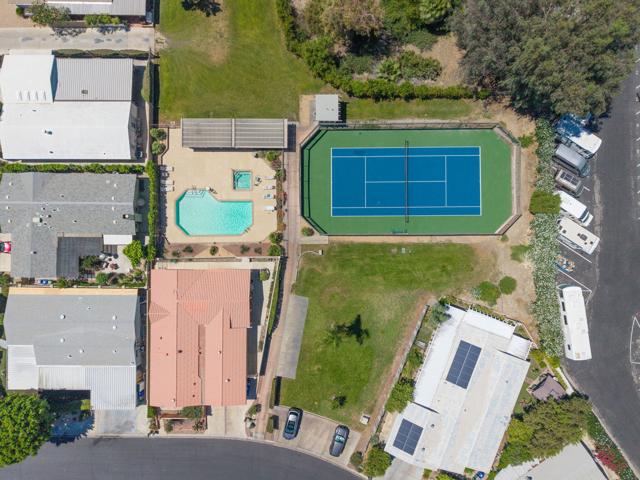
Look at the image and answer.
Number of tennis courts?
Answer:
1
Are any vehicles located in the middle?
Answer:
No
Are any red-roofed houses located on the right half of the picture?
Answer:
No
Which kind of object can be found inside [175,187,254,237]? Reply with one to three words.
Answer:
swimming pool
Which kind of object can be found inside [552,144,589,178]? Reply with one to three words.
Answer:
van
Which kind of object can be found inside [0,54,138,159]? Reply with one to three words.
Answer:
house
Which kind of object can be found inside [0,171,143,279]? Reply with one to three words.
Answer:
house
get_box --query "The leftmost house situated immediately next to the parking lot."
[383,304,532,473]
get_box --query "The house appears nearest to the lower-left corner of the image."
[4,288,144,410]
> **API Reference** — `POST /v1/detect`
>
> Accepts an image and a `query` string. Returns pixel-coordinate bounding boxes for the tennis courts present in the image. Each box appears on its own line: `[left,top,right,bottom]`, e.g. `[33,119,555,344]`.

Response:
[302,128,512,236]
